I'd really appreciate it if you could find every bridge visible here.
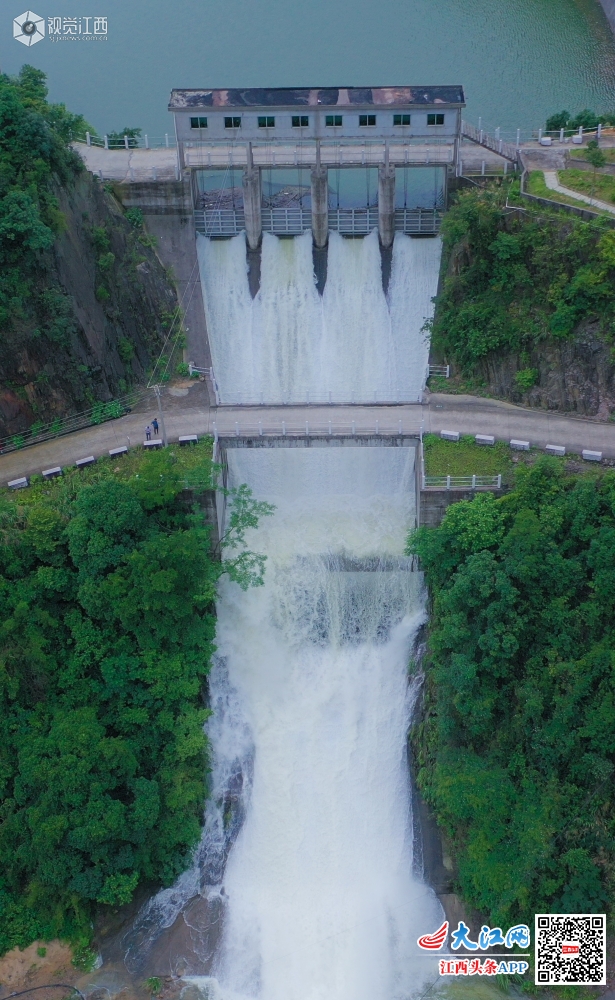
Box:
[210,394,432,448]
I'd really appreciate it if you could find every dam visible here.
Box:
[62,129,530,390]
